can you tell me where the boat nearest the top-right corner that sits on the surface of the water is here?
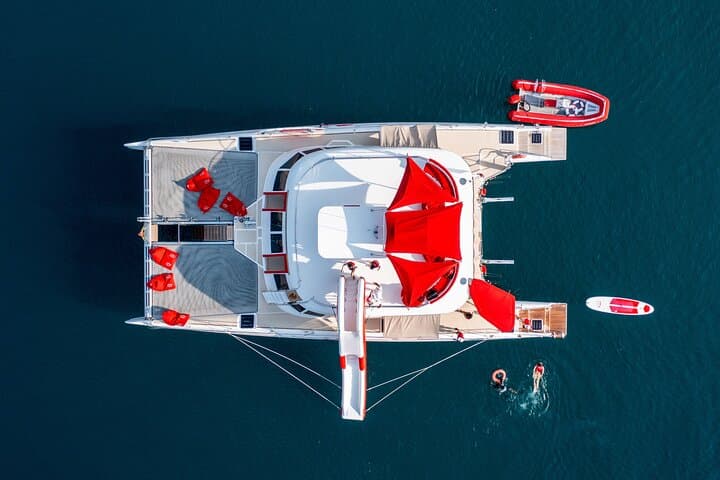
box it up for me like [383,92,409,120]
[507,79,610,127]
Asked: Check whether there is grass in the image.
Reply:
No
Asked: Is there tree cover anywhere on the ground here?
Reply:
No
